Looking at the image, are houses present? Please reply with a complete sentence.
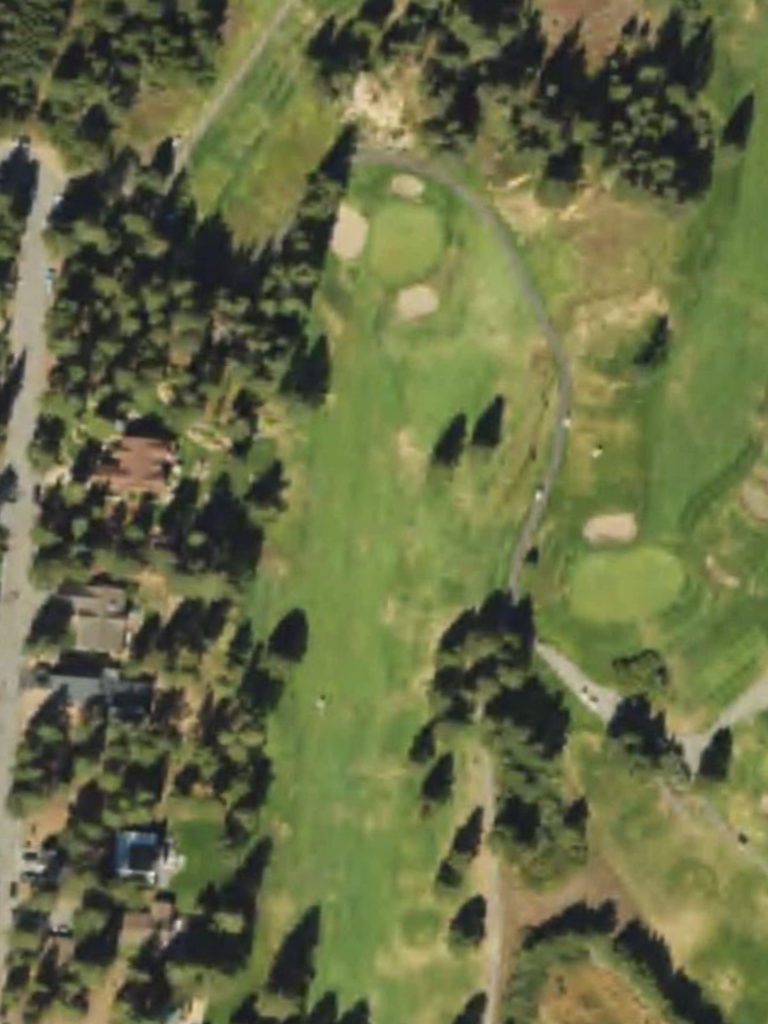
Yes, a house appears in the view.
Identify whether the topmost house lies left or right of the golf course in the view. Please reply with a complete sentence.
Relative to the golf course, the topmost house is on the left.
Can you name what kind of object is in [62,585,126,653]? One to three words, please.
house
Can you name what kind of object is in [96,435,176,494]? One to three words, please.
house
